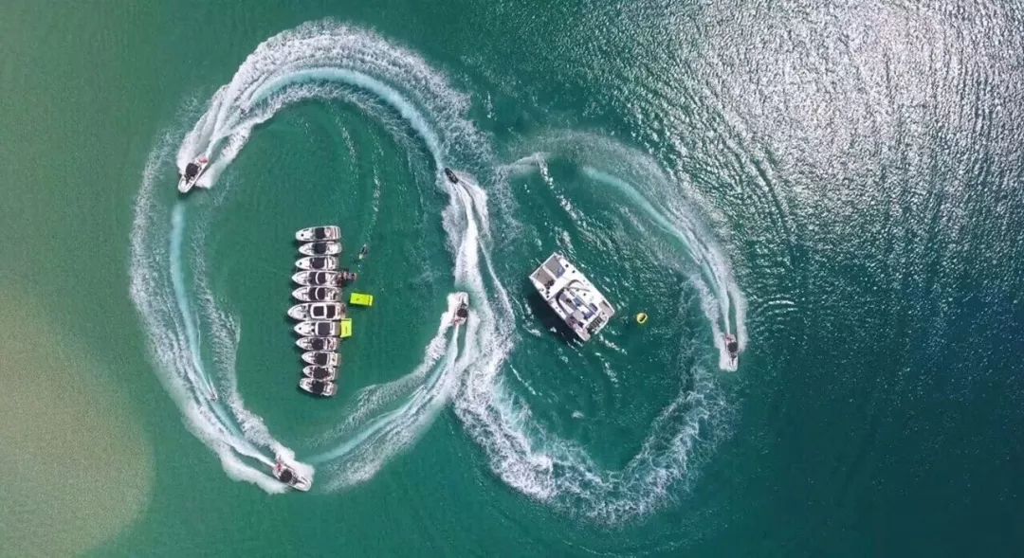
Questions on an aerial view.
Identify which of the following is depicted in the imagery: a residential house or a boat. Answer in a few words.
boat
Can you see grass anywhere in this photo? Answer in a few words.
No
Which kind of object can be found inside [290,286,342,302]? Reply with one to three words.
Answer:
boat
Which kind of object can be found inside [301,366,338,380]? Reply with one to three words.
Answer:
boat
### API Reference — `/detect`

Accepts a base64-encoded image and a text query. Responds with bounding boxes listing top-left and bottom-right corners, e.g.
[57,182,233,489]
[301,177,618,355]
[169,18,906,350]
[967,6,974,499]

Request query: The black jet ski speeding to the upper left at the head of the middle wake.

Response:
[444,168,460,185]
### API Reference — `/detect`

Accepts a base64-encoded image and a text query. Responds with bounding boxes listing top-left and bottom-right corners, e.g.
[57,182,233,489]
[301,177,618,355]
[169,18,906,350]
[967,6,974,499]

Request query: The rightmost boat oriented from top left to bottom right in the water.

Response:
[530,252,616,340]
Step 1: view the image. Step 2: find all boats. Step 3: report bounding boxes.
[290,270,339,286]
[297,378,338,397]
[175,153,210,191]
[285,302,346,321]
[444,168,460,185]
[725,334,743,371]
[272,464,310,493]
[293,256,339,271]
[301,366,338,380]
[293,225,341,241]
[290,286,342,302]
[530,252,616,340]
[296,241,342,256]
[299,352,340,368]
[292,321,341,338]
[293,337,338,353]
